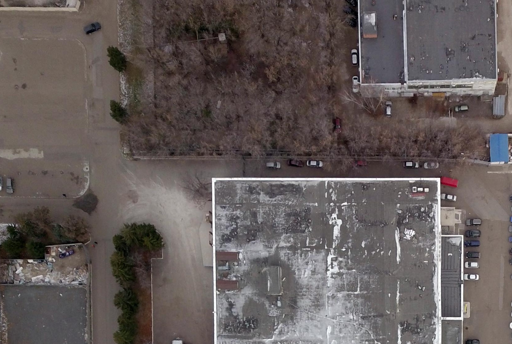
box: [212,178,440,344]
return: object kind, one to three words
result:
building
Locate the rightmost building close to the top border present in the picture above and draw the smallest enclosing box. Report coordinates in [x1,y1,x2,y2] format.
[406,0,497,101]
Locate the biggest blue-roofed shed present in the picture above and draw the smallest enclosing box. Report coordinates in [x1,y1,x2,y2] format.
[489,134,509,165]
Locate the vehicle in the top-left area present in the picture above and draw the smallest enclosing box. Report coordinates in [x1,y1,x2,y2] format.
[84,22,101,35]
